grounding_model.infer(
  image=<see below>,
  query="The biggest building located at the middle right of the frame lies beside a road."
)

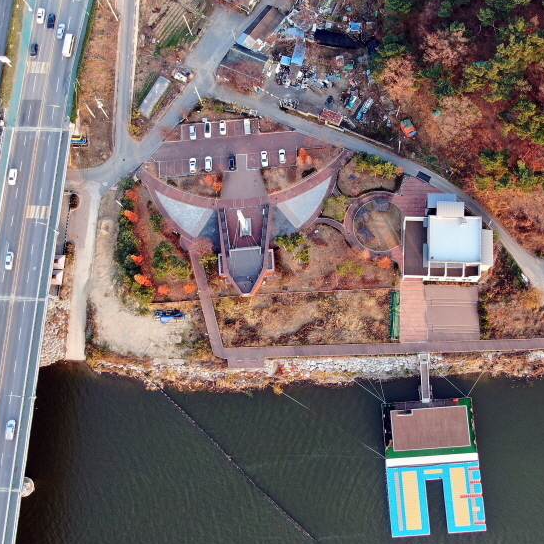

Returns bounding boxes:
[400,194,493,282]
